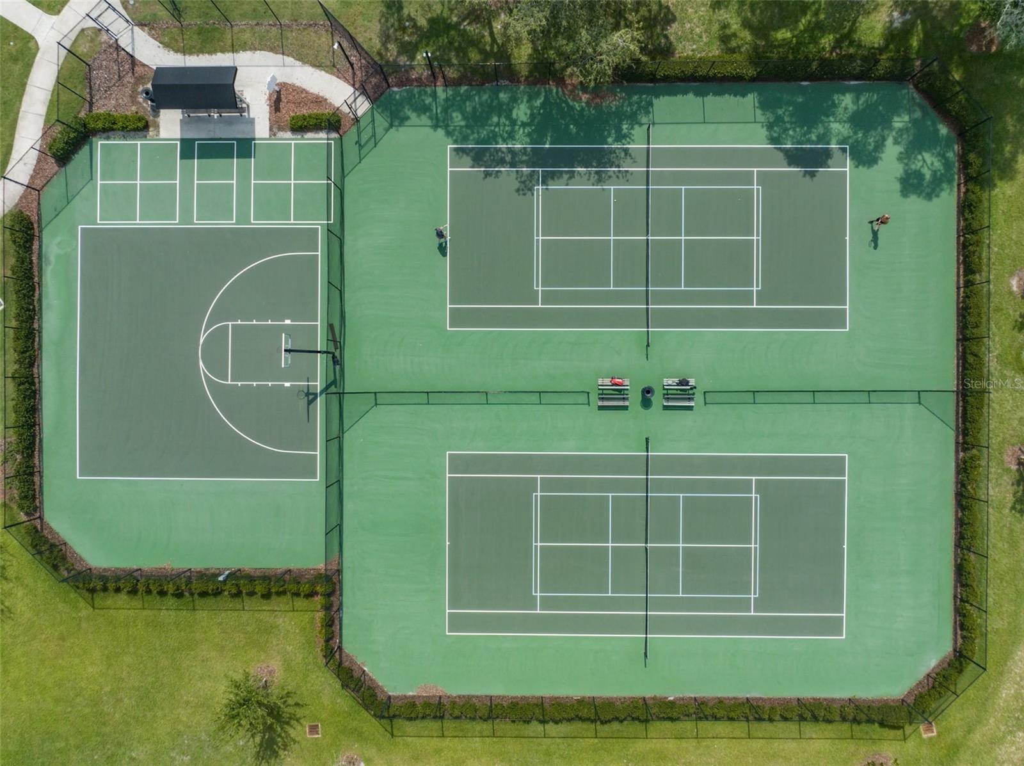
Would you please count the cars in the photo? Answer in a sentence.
The count of cars is 0.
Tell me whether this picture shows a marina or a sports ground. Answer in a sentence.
The area seen from above is a sports ground.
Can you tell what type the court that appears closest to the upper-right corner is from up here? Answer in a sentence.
I'd identify the court that appears closest to the upper-right corner as a tennis court.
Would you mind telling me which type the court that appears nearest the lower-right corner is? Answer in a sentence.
In the photo, the court that appears nearest the lower-right corner shows up as a tennis court.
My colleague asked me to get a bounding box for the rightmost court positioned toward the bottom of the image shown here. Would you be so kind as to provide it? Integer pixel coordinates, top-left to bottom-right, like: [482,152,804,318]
[446,452,848,638]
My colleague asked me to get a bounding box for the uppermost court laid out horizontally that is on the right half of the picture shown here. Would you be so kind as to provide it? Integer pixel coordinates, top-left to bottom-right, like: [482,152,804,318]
[447,146,849,331]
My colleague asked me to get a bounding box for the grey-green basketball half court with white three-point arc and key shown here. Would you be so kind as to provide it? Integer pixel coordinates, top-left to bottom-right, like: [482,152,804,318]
[77,226,320,480]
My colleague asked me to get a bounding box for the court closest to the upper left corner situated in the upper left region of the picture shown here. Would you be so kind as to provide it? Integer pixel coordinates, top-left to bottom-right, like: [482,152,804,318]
[97,141,179,223]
